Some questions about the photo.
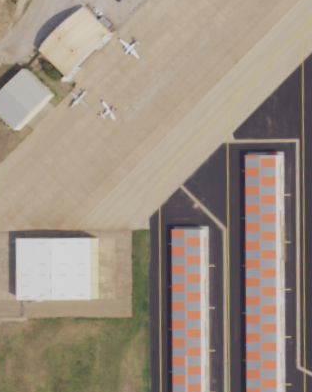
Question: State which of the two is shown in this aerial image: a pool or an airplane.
airplane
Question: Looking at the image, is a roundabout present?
No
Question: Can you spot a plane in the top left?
Yes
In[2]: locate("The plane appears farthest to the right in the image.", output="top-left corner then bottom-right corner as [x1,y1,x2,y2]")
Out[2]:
[121,37,140,60]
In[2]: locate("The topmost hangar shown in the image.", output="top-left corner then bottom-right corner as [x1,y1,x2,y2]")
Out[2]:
[39,6,114,80]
